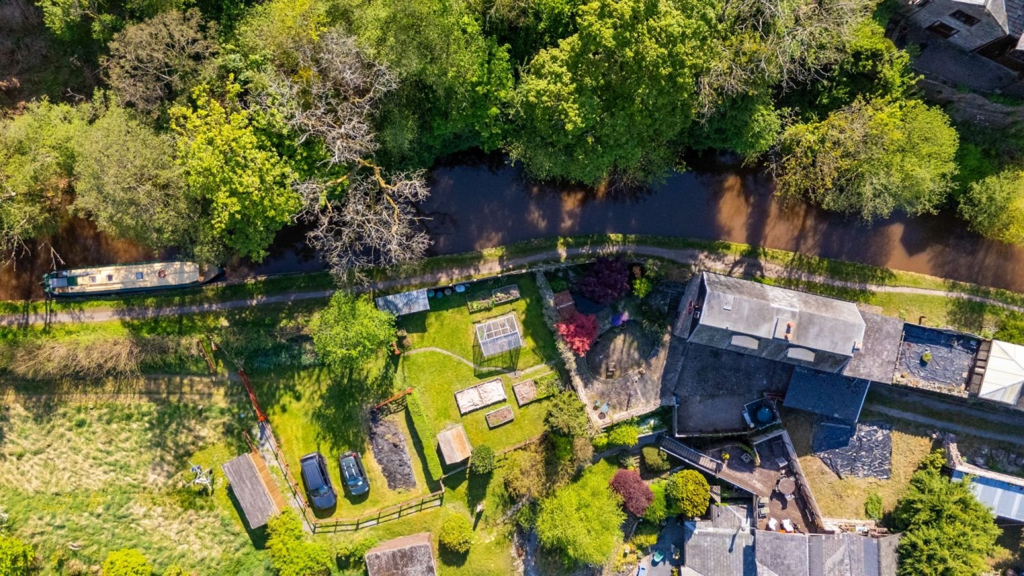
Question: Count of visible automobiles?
2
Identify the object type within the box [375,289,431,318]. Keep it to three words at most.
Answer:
shed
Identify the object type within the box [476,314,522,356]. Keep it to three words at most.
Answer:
greenhouse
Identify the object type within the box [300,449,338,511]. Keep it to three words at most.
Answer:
car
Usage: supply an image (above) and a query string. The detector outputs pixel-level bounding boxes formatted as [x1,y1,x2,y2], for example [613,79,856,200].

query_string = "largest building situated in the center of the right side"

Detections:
[684,270,867,374]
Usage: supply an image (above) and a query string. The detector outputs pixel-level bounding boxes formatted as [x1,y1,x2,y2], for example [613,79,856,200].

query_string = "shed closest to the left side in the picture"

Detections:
[222,449,289,529]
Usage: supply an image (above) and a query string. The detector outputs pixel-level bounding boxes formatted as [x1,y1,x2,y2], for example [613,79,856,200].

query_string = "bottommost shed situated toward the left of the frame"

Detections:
[366,533,439,576]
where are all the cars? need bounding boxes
[339,447,370,498]
[300,449,338,511]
